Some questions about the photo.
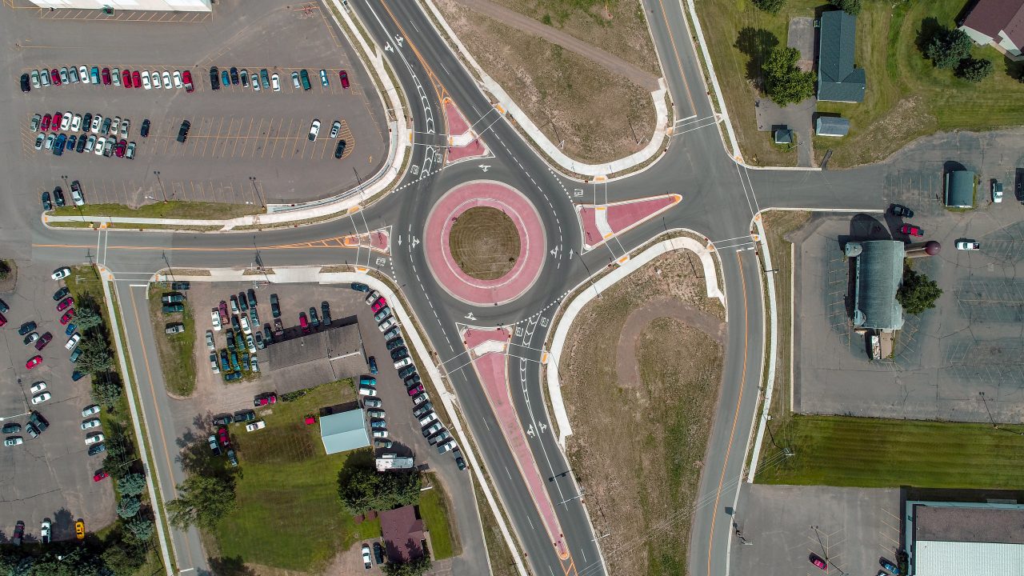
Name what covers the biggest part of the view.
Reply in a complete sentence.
For the most part, this view shows paved ground.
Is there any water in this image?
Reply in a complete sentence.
No, water can't be seen anywhere here.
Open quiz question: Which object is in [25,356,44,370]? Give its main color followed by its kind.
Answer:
red car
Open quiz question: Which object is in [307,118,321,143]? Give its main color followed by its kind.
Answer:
white vehicle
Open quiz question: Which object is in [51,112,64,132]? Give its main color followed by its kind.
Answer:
red vehicle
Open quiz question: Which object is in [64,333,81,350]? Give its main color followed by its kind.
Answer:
white car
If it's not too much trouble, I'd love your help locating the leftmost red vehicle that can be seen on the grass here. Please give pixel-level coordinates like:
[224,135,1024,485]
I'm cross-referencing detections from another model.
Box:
[218,426,231,448]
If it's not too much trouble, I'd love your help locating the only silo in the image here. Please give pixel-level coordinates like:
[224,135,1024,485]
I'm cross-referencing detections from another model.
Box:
[905,240,943,259]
